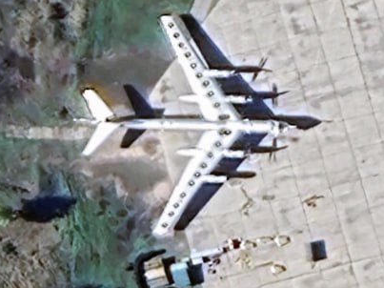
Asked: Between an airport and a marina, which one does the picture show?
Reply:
airport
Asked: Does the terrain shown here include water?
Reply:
No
